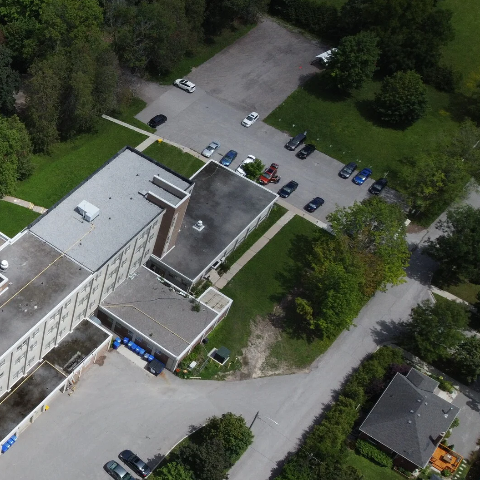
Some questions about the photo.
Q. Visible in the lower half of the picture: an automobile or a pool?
automobile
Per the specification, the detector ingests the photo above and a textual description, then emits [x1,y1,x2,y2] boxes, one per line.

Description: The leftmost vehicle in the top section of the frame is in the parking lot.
[146,109,170,129]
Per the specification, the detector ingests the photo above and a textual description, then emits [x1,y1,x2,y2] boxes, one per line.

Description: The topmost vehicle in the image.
[172,78,197,93]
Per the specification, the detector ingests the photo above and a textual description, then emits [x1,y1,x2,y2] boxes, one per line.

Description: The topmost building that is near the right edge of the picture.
[354,370,462,477]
